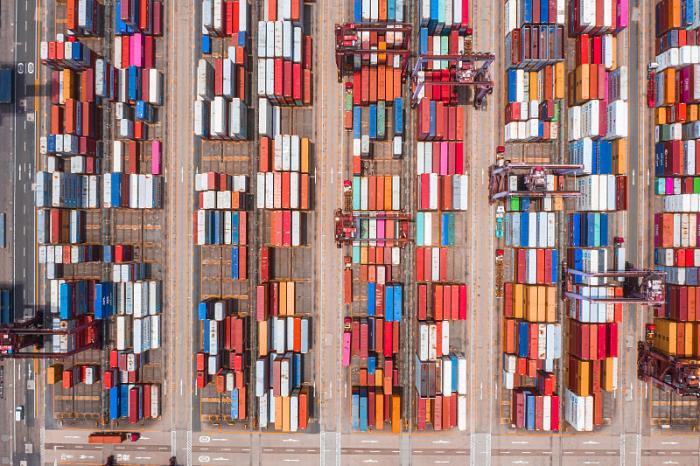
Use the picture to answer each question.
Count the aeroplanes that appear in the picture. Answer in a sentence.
No aeroplanes are visible.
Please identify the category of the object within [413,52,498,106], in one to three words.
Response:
crane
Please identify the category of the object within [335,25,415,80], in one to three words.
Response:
crane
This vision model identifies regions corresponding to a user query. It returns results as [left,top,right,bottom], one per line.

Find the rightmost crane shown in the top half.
[492,161,586,204]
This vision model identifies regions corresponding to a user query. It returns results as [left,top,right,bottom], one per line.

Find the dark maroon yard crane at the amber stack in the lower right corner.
[639,342,700,395]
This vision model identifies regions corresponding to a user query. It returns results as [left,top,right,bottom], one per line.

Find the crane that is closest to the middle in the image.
[334,208,414,249]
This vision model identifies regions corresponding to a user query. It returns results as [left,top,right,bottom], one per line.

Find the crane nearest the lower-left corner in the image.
[0,310,103,357]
